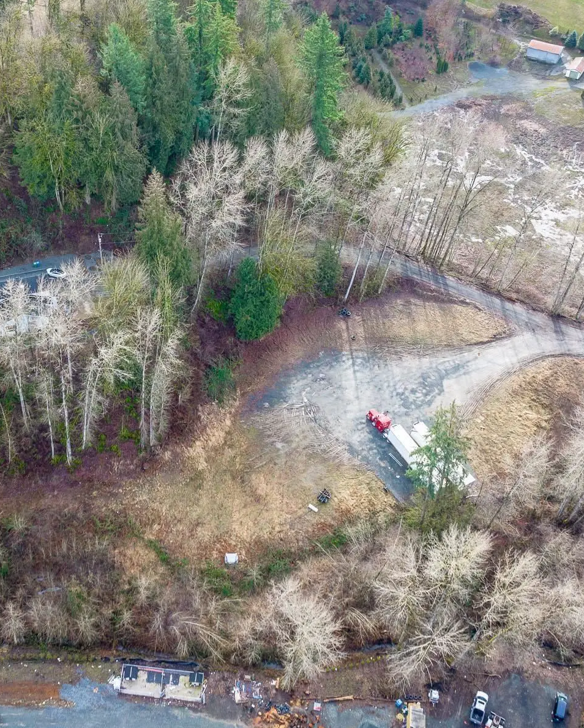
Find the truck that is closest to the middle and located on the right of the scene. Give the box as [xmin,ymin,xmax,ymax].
[366,408,398,435]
